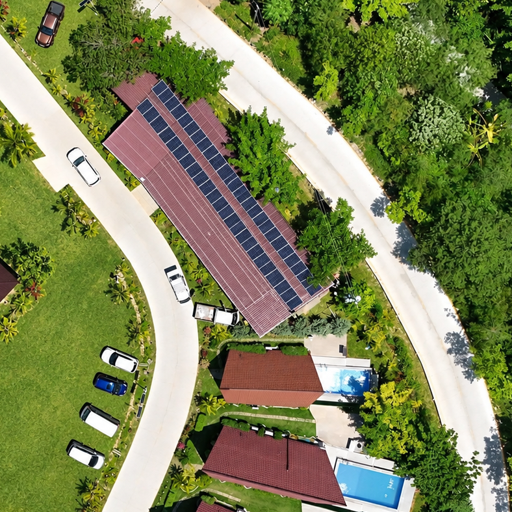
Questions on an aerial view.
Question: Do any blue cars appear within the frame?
Yes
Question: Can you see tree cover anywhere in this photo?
Yes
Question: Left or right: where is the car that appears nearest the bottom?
left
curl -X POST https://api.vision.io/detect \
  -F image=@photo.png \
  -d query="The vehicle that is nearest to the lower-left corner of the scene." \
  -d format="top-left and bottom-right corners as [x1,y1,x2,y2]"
[66,441,106,467]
